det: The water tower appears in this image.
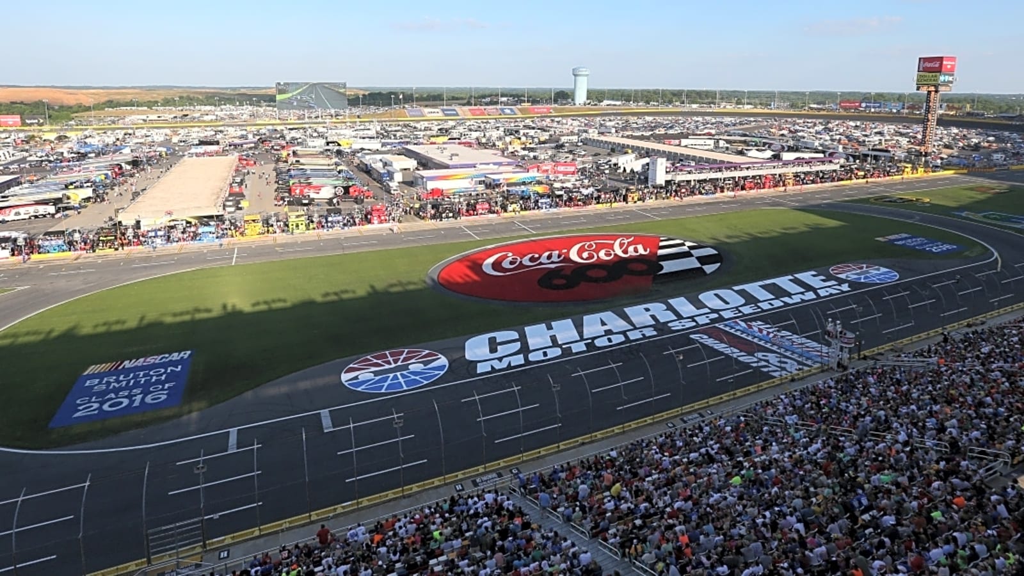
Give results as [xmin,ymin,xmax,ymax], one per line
[572,66,589,105]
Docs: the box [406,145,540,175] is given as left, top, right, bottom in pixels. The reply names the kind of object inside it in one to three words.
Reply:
building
